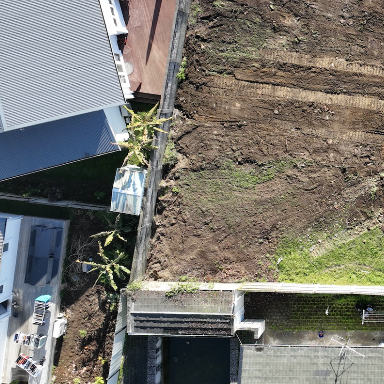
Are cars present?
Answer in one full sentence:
No, there isn't any car down there.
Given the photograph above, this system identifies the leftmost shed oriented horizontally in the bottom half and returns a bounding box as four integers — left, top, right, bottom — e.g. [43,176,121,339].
[126,284,244,338]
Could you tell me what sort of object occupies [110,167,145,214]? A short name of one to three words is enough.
shed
